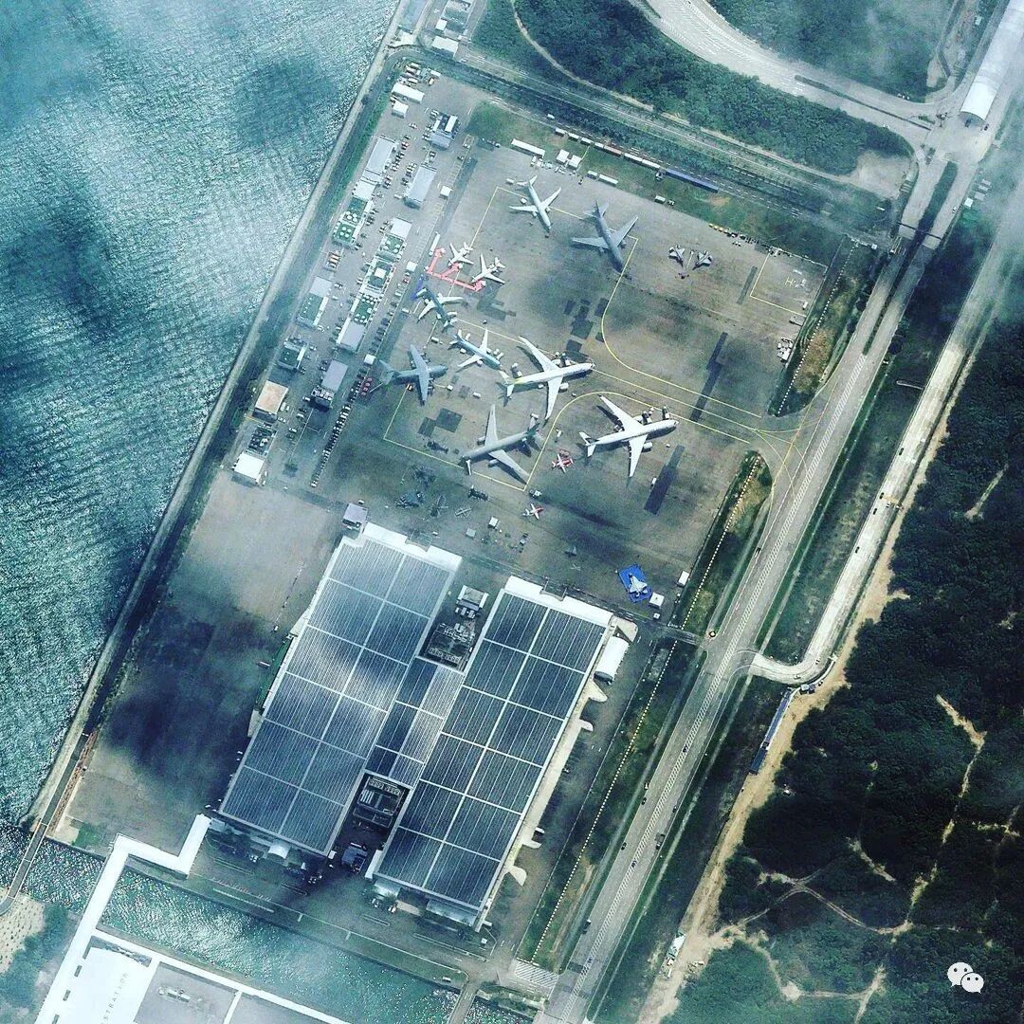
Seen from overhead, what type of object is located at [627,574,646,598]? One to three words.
airplane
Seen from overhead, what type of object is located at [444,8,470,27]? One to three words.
shed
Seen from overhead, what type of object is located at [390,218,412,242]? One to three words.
building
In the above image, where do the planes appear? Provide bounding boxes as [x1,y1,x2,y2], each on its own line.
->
[693,250,711,270]
[461,404,546,478]
[503,338,594,415]
[382,344,447,399]
[514,177,565,230]
[670,245,686,266]
[522,503,543,519]
[573,200,641,272]
[451,505,475,517]
[419,286,463,327]
[449,328,500,368]
[627,574,646,598]
[472,250,507,282]
[449,239,475,265]
[565,546,577,558]
[582,394,679,478]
